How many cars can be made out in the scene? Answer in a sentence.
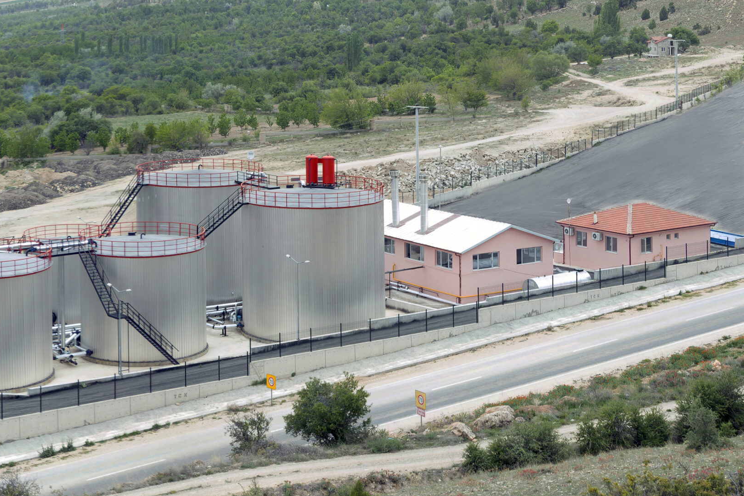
No cars are visible.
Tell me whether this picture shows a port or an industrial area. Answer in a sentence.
The area seen from above is an industrial area.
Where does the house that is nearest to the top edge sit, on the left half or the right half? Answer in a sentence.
It is on the right.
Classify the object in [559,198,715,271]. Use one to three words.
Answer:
building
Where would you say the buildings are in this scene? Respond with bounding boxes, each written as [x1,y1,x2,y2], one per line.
[646,30,679,56]
[383,166,563,304]
[559,198,715,271]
